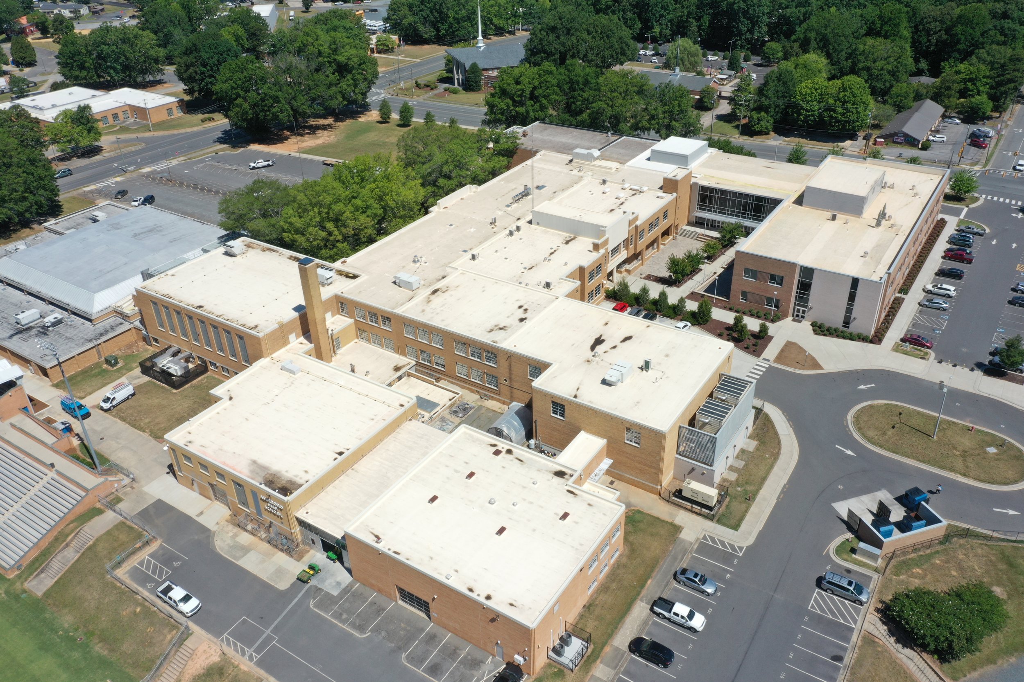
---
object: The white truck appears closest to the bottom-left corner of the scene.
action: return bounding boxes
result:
[151,585,202,622]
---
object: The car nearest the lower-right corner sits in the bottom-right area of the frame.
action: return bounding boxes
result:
[821,574,872,609]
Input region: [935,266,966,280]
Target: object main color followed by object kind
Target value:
black car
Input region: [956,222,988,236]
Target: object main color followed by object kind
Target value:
gray vehicle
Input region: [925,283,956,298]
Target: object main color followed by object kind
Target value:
white car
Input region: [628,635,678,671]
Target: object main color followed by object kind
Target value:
black car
